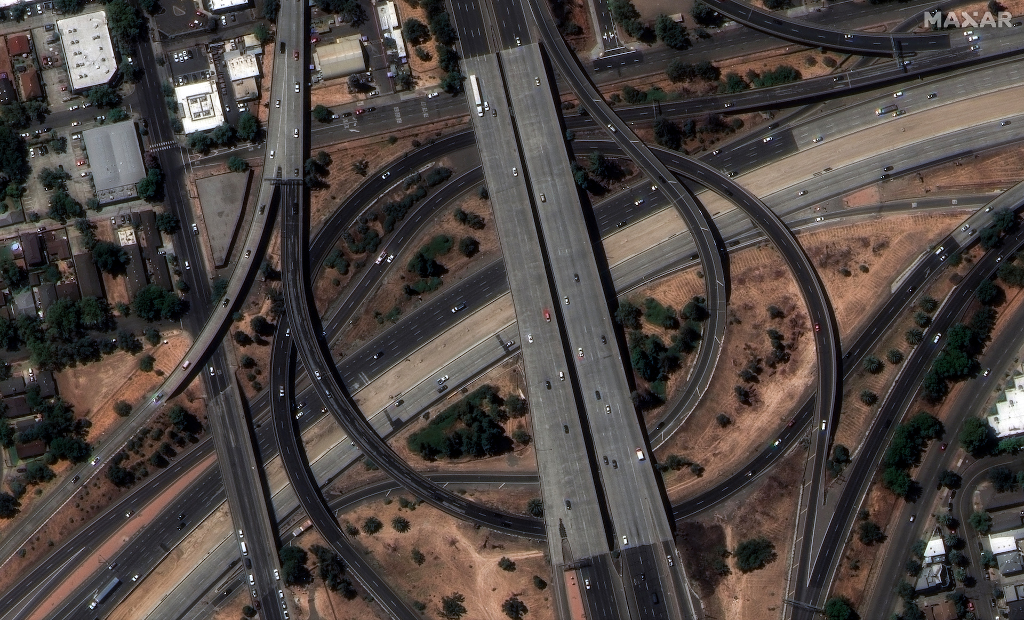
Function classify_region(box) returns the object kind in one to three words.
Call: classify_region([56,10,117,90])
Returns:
building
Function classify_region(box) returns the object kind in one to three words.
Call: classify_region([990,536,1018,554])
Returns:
building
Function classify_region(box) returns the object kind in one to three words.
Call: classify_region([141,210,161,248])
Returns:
house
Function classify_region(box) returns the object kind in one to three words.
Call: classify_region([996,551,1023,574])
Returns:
house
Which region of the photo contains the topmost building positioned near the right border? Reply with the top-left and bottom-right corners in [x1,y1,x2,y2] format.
[988,374,1024,437]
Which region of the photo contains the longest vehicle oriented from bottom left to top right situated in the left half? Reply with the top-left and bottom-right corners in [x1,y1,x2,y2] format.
[89,576,120,606]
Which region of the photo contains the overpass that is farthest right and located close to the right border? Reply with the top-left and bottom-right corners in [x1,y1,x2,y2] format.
[949,181,1024,249]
